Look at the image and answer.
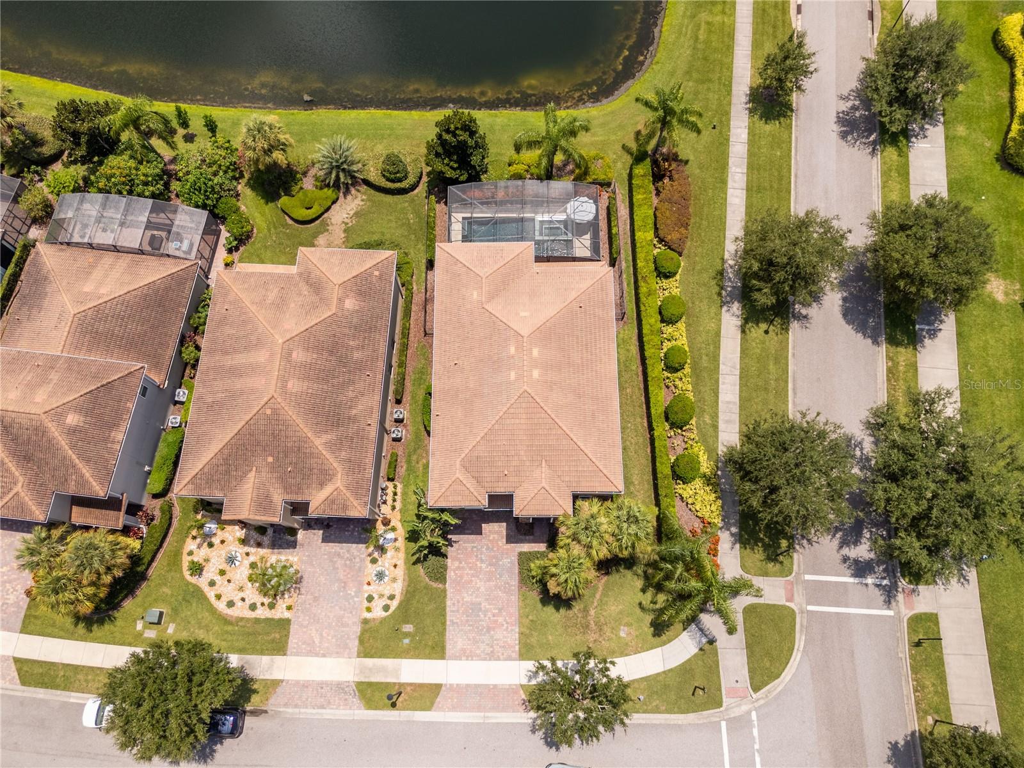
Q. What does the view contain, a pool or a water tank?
pool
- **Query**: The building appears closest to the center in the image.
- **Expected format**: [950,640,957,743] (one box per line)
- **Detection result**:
[425,241,625,527]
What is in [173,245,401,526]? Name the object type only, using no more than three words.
house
